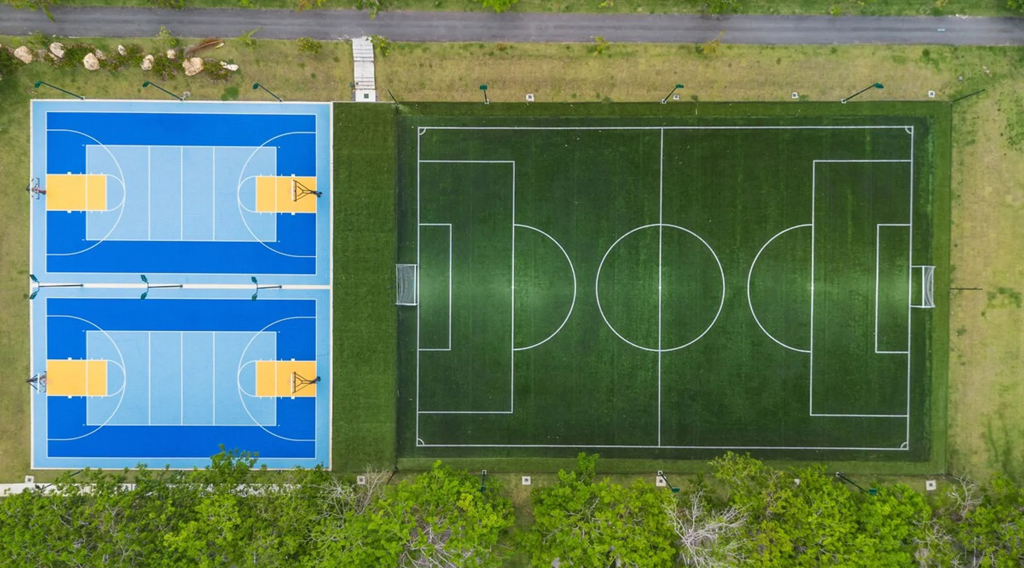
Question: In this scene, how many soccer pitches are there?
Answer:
one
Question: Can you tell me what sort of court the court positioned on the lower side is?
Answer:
basketball court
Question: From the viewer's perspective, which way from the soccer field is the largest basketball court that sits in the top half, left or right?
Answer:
to the left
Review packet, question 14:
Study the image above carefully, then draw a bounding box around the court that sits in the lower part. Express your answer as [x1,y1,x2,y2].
[33,287,330,468]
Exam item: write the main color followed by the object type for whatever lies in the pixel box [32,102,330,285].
blue basketball court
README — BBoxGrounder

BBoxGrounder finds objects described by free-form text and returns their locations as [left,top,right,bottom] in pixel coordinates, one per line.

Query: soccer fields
[396,103,951,475]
